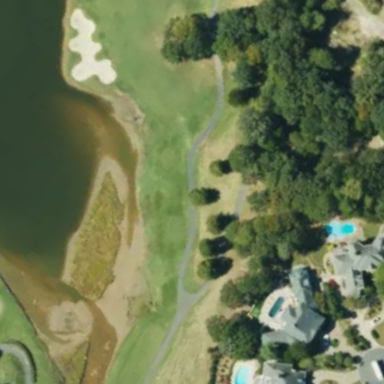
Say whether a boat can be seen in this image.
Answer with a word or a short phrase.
No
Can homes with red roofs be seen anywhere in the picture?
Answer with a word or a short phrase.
No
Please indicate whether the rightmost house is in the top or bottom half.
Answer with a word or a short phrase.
bottom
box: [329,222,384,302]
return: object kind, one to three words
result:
house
